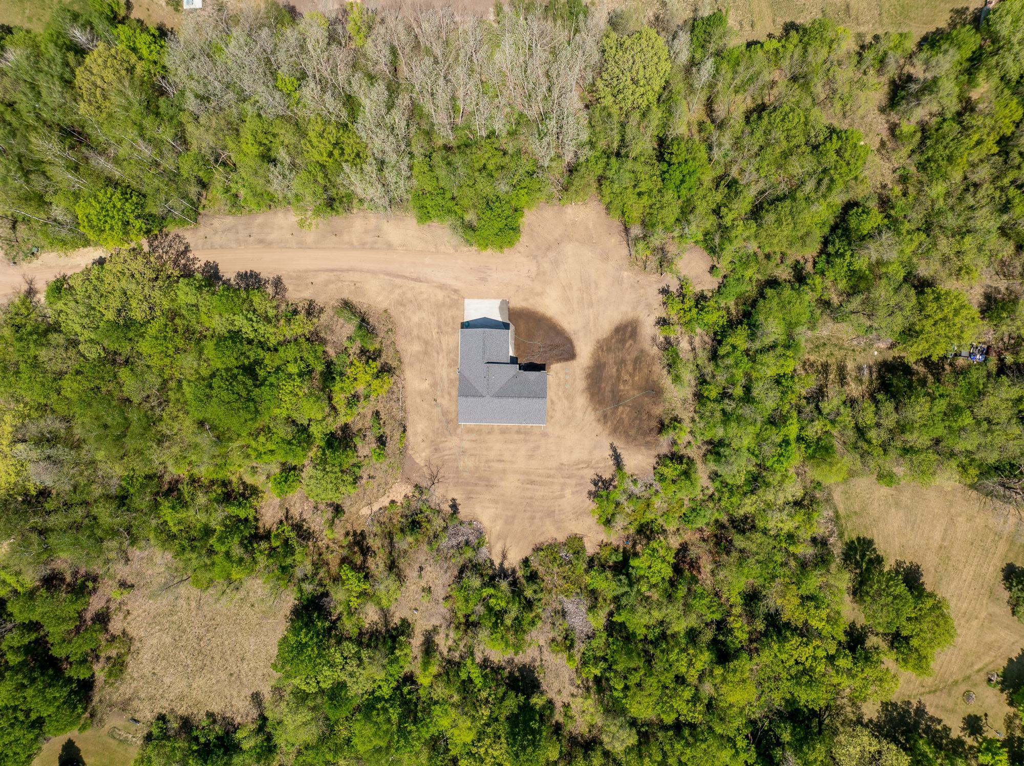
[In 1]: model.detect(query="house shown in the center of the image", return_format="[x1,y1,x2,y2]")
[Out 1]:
[458,328,548,428]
